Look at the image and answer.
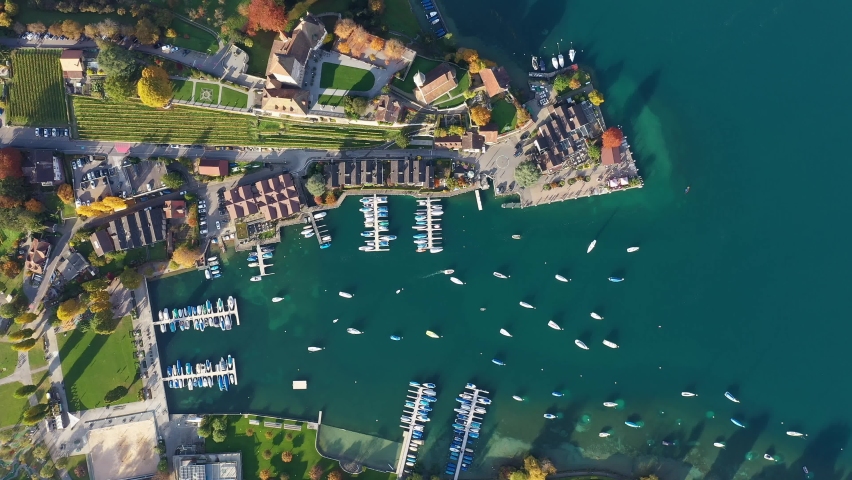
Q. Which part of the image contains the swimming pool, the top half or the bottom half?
bottom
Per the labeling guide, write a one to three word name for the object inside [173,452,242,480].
building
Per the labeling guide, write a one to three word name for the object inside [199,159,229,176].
shed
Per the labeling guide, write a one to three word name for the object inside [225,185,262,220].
building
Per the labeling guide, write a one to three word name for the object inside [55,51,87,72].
house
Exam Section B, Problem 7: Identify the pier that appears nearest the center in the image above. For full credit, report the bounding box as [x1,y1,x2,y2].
[417,197,442,250]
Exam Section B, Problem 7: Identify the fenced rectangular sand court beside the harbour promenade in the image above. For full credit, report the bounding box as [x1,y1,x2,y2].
[87,417,159,480]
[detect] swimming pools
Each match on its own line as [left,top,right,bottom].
[318,424,401,472]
